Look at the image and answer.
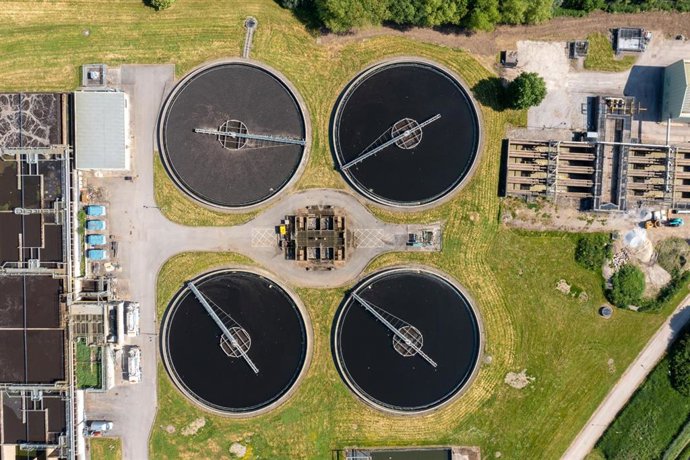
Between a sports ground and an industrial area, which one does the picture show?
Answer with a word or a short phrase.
industrial area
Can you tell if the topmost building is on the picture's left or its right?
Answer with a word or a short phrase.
right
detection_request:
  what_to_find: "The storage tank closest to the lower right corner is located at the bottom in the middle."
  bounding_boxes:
[330,263,484,417]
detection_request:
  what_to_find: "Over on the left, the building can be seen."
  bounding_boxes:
[73,90,133,170]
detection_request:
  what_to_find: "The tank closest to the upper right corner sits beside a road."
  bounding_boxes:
[330,57,483,211]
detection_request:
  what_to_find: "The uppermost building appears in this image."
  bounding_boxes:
[615,28,643,55]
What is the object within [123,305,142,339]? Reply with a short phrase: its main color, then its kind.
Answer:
white vehicle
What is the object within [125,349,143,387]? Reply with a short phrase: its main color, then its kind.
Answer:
white vehicle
